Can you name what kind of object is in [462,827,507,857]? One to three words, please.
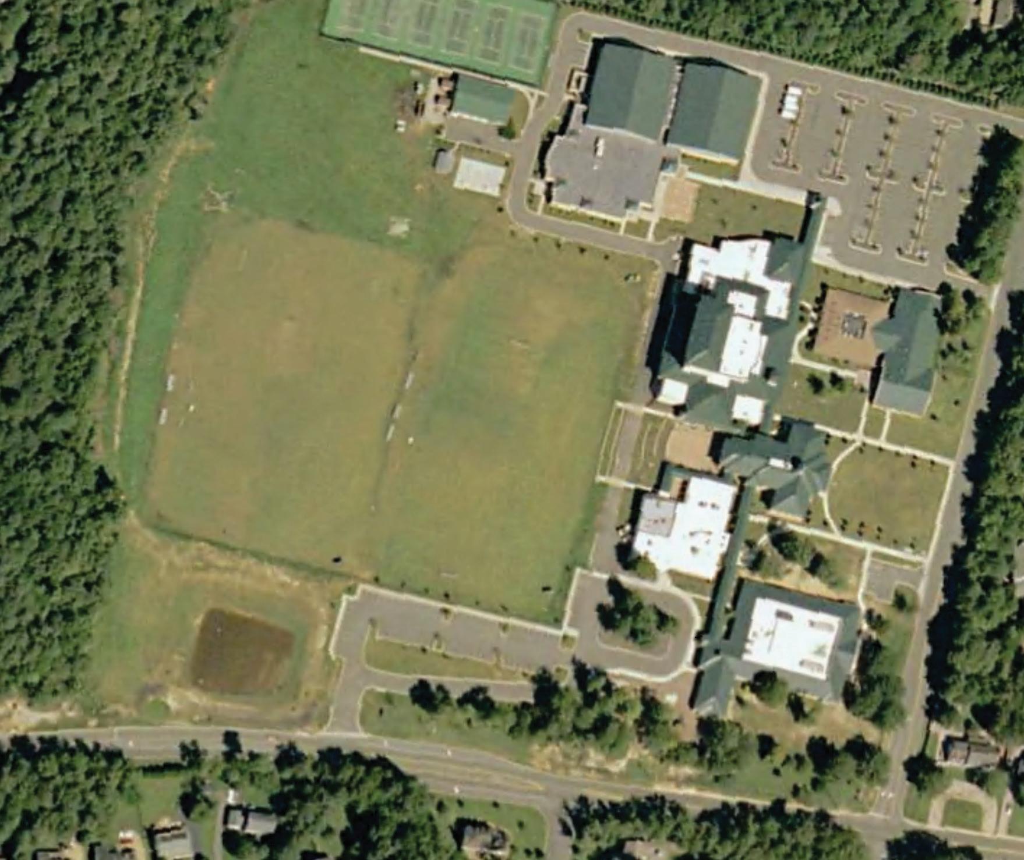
house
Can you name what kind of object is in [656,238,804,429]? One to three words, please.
building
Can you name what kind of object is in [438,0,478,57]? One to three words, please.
tennis court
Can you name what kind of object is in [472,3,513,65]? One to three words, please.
tennis court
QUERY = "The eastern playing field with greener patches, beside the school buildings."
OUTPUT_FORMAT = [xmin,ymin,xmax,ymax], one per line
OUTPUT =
[372,234,649,617]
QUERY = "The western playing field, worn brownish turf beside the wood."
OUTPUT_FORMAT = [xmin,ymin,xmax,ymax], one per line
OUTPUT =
[145,214,423,573]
